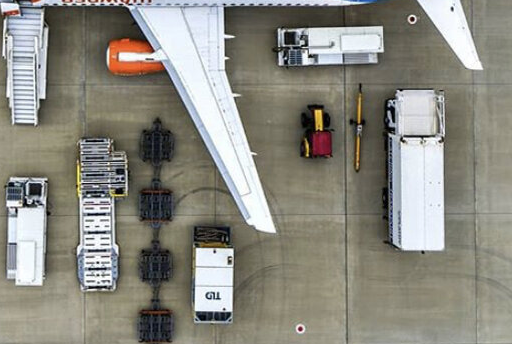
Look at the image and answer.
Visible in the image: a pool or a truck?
truck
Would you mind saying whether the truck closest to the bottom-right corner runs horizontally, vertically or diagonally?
vertically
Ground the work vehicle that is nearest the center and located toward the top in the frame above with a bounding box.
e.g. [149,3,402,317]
[301,106,335,158]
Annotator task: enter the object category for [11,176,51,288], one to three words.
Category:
vehicle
